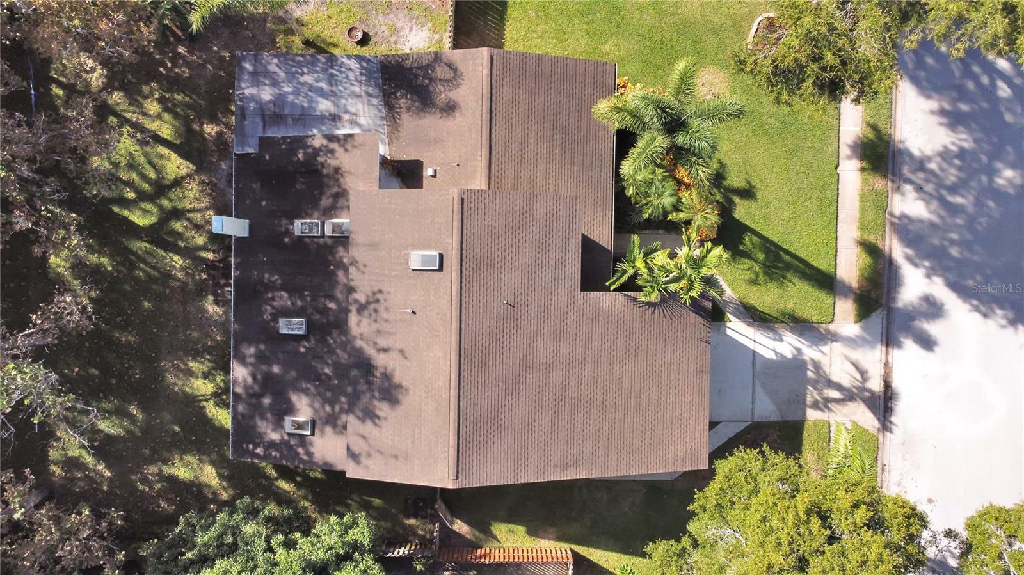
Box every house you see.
[215,46,711,490]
